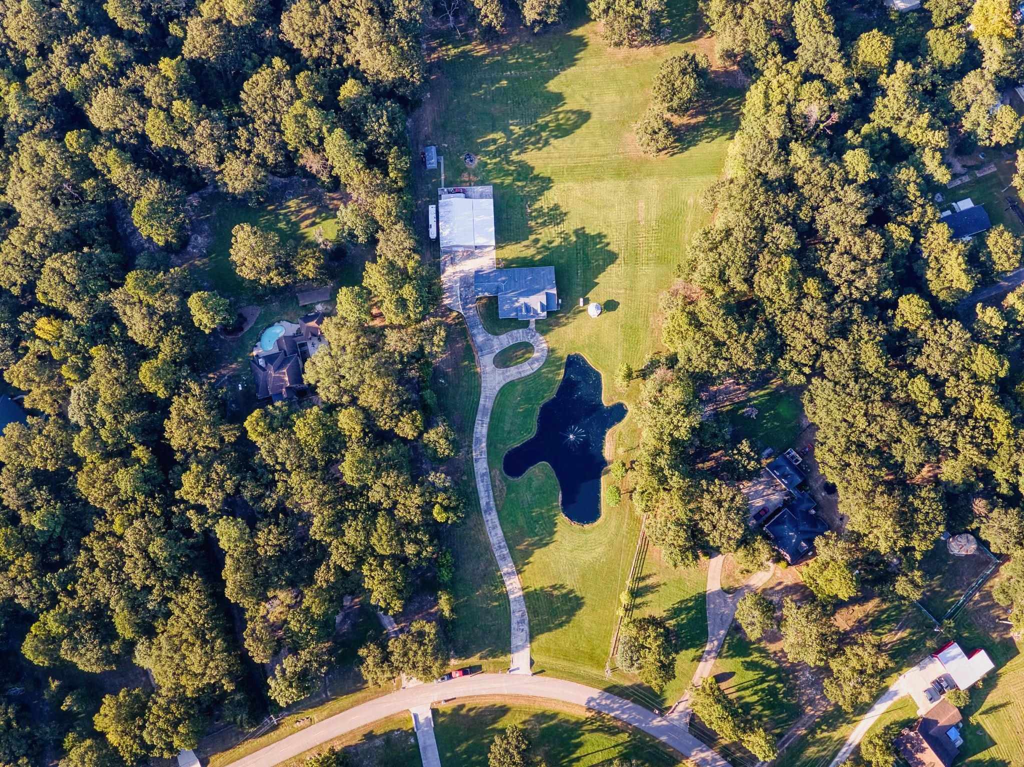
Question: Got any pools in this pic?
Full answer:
Yes, a pool is visible in the scene.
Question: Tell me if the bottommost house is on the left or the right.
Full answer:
The bottommost house appears in the right half of the scene.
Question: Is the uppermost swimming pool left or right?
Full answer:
The uppermost swimming pool is on the left side of the image.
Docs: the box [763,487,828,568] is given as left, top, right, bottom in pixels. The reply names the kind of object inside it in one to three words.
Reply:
house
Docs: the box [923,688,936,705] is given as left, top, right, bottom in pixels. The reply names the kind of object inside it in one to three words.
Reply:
vehicle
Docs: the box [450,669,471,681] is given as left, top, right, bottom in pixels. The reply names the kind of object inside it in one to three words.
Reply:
vehicle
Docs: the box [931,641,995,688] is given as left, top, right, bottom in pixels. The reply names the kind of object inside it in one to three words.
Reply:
barn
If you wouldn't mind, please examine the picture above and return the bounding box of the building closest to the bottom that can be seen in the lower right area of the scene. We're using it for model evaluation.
[892,698,963,767]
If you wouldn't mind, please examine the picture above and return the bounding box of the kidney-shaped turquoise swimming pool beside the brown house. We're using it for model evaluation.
[259,324,286,351]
